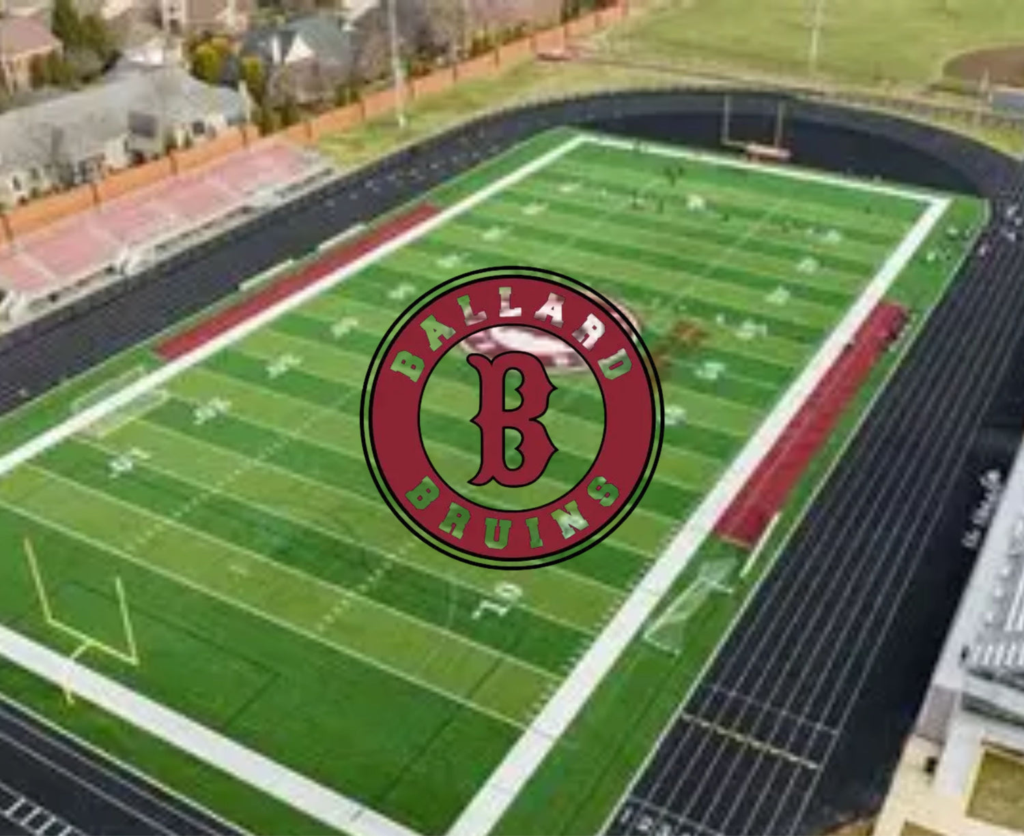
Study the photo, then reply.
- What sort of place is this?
sports ground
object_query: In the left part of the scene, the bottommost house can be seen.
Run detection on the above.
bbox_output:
[0,77,267,214]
